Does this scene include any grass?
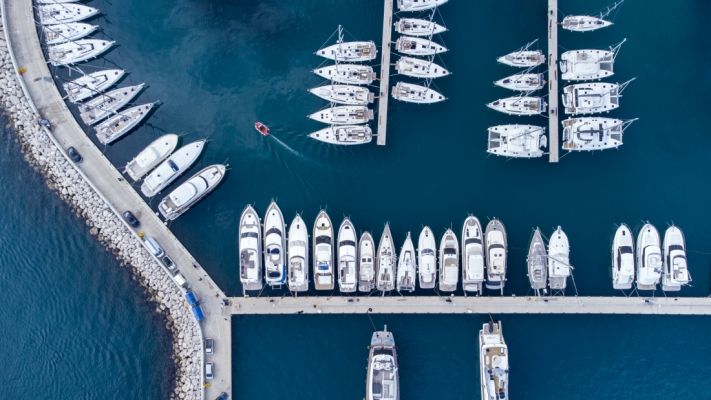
No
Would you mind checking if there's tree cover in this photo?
No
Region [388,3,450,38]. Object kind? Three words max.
boat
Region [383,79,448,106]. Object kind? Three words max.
boat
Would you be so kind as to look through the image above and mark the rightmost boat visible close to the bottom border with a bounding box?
[478,315,509,400]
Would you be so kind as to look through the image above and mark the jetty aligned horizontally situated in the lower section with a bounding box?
[231,294,711,316]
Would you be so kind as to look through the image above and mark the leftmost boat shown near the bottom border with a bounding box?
[364,315,399,400]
